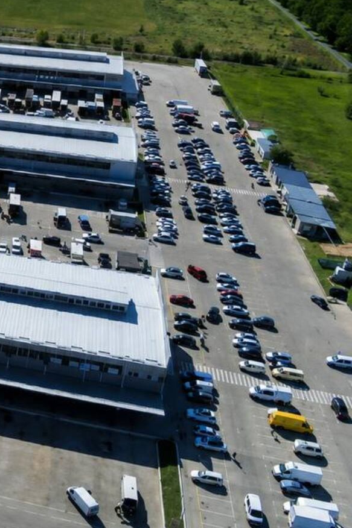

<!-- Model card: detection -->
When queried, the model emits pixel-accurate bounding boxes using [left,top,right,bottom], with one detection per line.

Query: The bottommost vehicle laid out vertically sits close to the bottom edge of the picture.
[118,476,141,516]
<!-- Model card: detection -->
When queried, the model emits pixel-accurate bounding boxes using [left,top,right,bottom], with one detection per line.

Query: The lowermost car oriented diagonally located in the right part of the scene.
[238,494,269,526]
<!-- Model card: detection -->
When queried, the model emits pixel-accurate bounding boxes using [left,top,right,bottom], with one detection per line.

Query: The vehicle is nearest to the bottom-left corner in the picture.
[60,486,108,525]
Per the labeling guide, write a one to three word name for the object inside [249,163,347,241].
building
